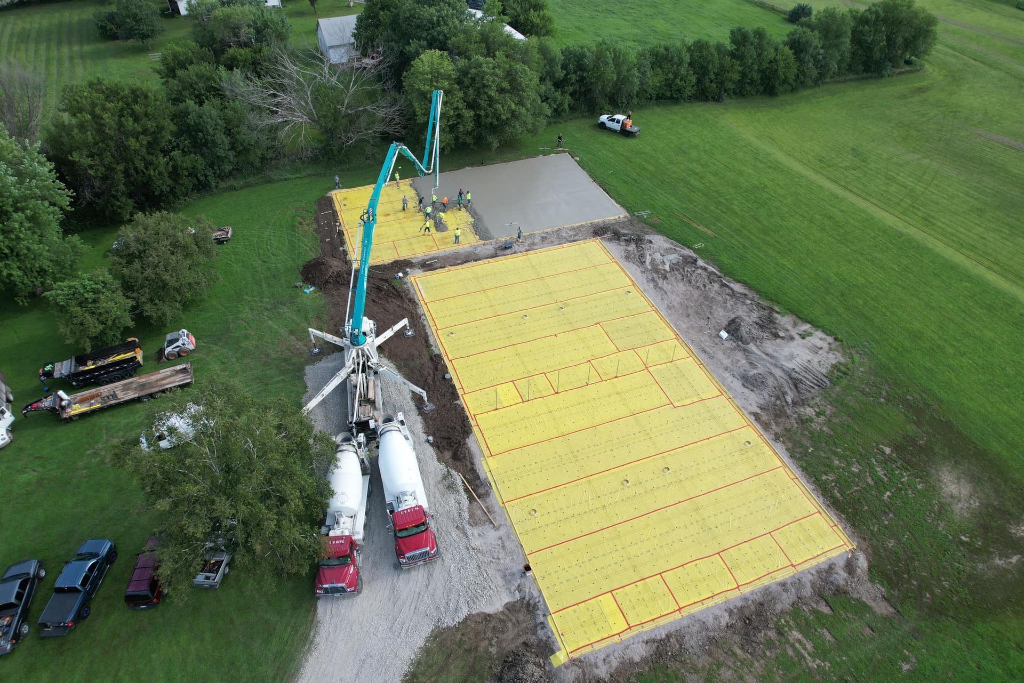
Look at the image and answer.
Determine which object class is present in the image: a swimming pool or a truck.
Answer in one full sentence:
Of the two, only a truck appears.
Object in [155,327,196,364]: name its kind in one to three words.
work vehicle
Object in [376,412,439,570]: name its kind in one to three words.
truck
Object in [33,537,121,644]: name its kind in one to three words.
truck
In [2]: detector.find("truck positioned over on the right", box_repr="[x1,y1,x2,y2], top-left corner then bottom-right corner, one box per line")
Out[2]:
[597,114,645,138]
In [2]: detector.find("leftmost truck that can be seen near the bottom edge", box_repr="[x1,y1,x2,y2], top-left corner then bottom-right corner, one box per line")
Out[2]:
[0,553,48,664]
